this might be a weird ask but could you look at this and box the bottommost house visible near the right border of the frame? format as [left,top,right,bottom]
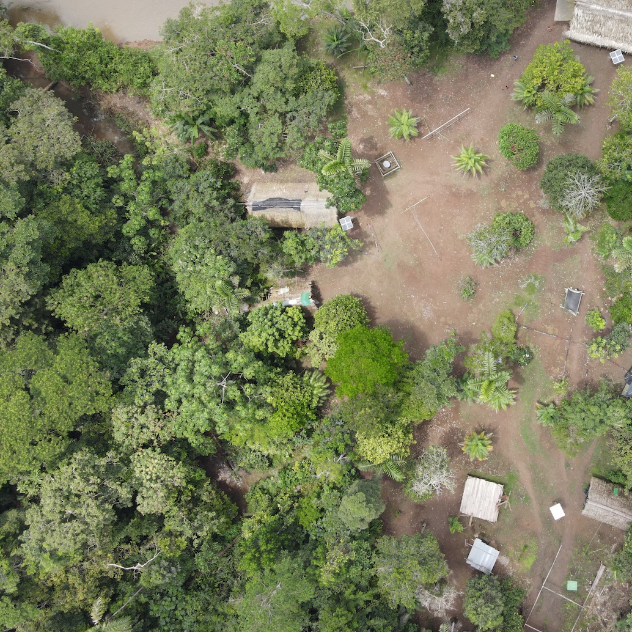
[581,473,632,530]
